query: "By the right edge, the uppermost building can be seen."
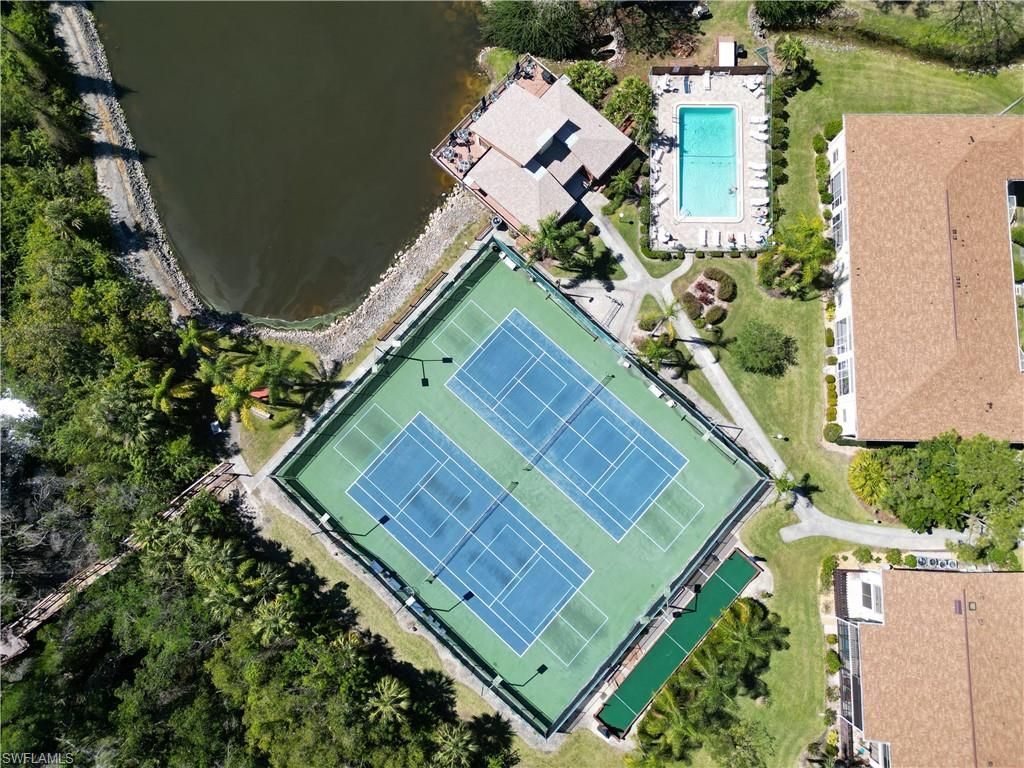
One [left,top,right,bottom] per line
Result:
[831,113,1024,446]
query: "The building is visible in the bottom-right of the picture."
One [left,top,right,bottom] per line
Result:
[834,567,1024,768]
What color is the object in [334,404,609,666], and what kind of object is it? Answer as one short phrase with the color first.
blue tennis court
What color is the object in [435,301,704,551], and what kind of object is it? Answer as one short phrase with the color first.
blue tennis court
